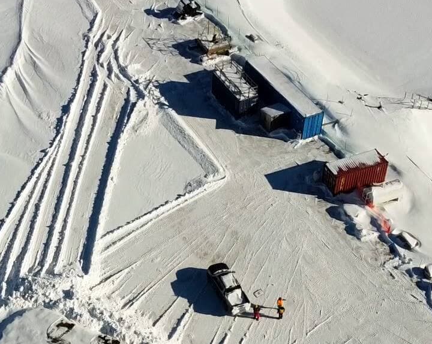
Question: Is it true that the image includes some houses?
No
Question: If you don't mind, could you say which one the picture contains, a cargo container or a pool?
cargo container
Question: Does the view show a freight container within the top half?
Yes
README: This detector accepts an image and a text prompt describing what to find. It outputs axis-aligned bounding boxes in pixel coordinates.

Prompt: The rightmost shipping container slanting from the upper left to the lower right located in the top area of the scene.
[245,55,324,136]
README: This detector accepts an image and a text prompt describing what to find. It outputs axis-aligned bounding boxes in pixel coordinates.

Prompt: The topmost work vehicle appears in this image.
[172,0,199,24]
